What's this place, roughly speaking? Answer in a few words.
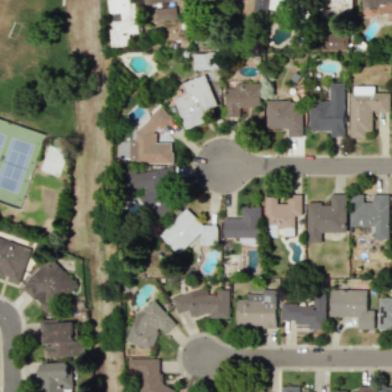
residential area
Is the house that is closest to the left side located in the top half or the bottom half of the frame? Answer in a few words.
bottom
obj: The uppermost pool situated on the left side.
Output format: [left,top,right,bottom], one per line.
[130,56,153,74]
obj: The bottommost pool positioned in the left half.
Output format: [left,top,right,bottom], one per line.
[136,283,154,306]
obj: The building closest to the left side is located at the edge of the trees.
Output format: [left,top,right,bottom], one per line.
[0,238,31,283]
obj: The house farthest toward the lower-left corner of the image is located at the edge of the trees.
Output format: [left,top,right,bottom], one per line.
[36,362,72,392]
